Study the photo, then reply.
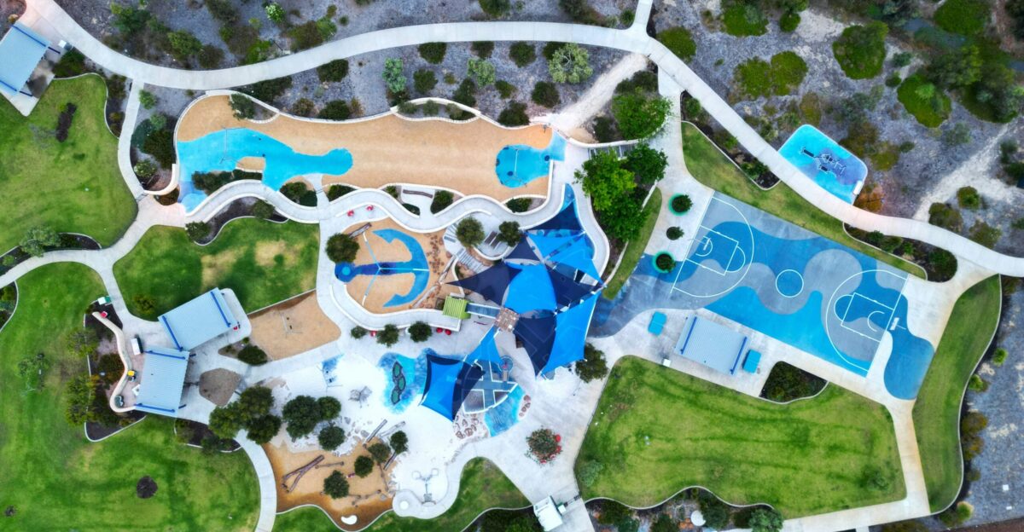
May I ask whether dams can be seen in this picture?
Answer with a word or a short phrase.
No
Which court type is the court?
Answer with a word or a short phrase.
basketball court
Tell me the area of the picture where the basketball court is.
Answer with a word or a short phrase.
right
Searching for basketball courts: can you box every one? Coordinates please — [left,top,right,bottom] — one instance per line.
[588,191,934,400]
